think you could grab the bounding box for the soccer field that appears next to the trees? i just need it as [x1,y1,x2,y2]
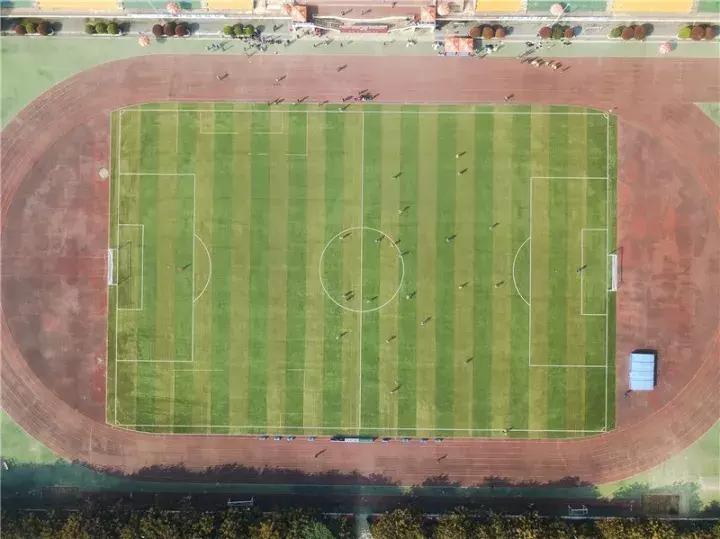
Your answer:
[105,103,619,439]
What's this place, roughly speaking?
sports ground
